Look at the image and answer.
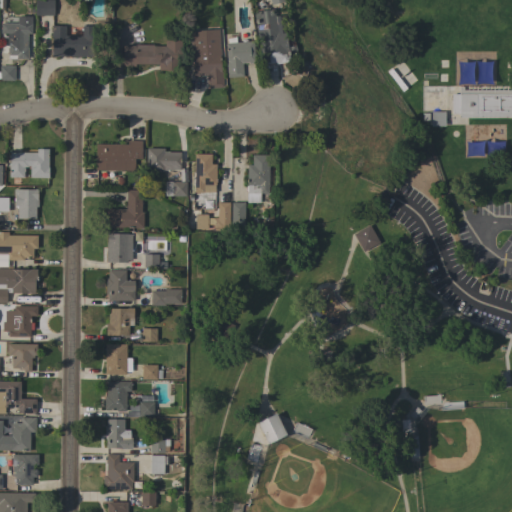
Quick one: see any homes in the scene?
Yes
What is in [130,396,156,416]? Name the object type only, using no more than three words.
building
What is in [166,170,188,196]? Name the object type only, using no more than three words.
building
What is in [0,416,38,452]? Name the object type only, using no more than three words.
house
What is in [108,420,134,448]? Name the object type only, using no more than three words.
house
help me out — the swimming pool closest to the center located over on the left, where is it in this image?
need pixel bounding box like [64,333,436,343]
[142,276,164,288]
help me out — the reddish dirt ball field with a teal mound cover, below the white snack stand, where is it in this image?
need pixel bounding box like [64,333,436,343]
[262,438,400,512]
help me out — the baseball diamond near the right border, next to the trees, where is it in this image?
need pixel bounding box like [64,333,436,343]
[422,409,512,512]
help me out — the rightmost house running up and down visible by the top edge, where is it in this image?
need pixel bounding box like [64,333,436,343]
[268,9,290,62]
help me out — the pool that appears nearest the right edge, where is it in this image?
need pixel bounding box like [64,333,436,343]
[239,7,251,29]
